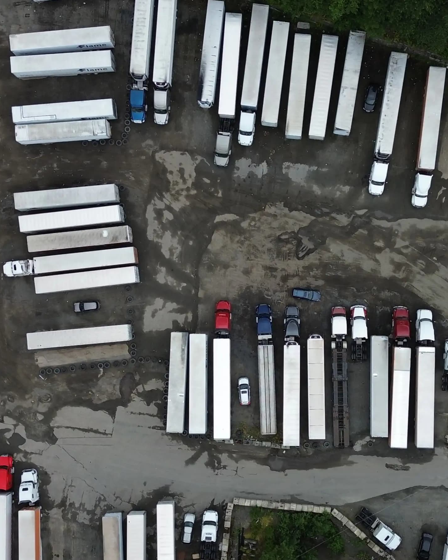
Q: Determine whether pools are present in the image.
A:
No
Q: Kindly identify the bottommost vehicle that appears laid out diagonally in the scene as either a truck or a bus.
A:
truck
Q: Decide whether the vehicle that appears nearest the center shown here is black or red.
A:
red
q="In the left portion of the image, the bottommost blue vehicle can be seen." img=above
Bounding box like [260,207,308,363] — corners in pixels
[127,78,149,124]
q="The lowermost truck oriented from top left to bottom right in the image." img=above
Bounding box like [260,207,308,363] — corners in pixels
[352,499,401,548]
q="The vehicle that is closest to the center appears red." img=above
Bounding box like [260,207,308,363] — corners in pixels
[212,300,232,338]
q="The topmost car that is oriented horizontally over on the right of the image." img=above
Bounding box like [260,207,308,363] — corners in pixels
[292,287,321,302]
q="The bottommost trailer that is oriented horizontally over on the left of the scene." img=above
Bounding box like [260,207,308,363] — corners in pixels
[27,324,133,349]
